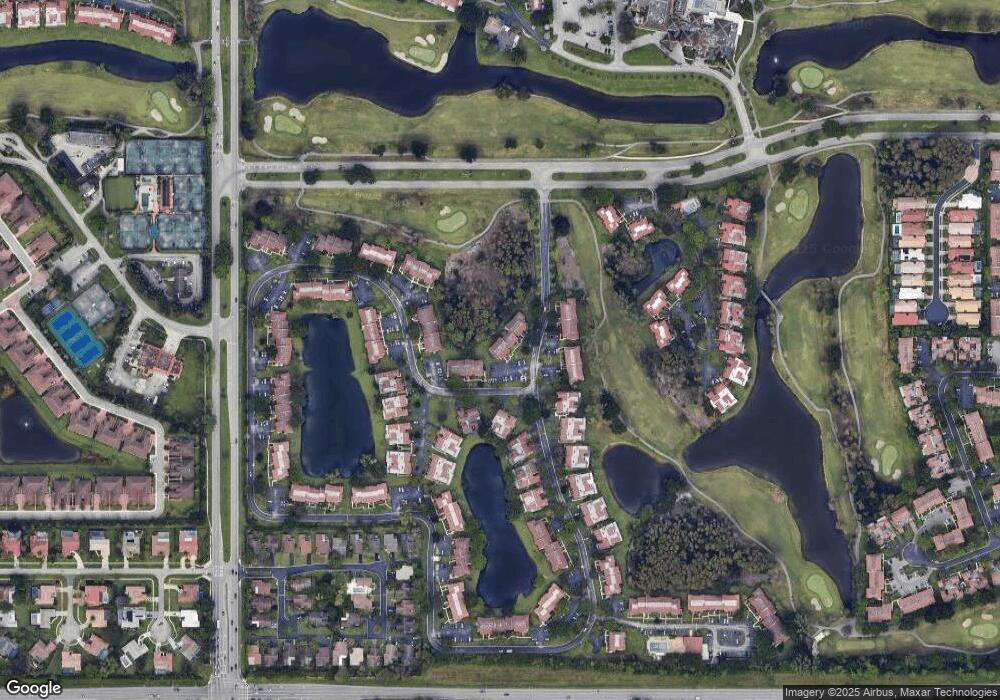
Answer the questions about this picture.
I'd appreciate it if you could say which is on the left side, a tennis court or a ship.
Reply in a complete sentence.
Looking on the left side, you will find a tennis court.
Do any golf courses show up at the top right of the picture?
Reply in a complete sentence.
Yes, you'll find a golf course at the top right of the picture.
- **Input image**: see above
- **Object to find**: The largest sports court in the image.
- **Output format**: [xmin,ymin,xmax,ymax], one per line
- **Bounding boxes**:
[48,308,104,367]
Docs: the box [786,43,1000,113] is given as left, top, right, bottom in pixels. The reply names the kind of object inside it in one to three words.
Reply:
golf course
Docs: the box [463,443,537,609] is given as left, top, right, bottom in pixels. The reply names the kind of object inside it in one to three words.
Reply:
pond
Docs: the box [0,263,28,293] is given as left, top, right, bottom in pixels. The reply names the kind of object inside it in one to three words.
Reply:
house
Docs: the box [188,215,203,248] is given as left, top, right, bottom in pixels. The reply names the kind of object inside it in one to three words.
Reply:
tennis court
